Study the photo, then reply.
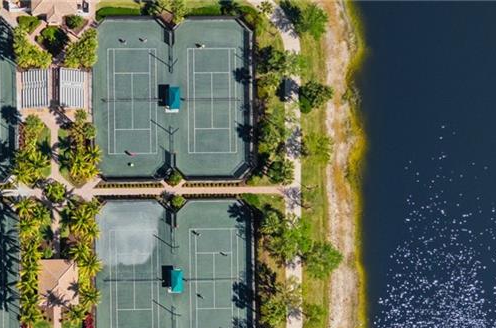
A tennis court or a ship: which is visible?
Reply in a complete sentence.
Looking from above, you can make out a tennis court.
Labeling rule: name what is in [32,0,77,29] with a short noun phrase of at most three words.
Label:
building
